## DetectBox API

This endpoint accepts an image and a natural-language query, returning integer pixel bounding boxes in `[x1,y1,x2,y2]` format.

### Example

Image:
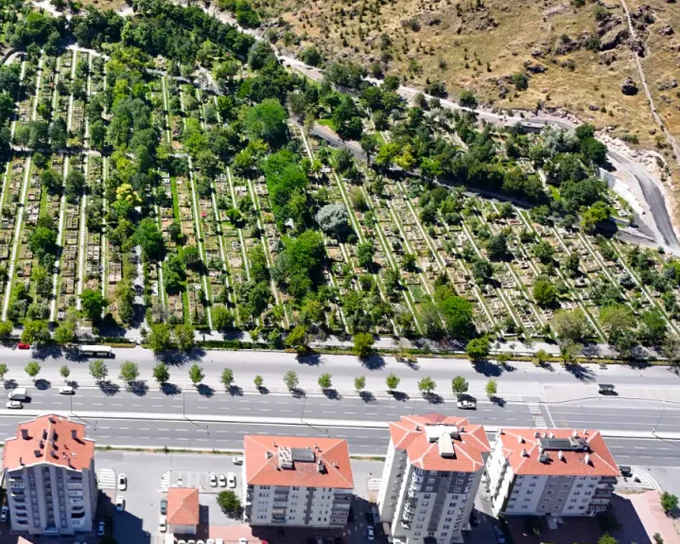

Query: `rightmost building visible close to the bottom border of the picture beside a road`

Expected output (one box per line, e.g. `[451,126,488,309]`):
[485,429,621,540]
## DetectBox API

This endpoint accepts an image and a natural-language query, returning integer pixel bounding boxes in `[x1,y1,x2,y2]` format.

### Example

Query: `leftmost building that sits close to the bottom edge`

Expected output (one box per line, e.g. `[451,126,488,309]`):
[0,413,93,540]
